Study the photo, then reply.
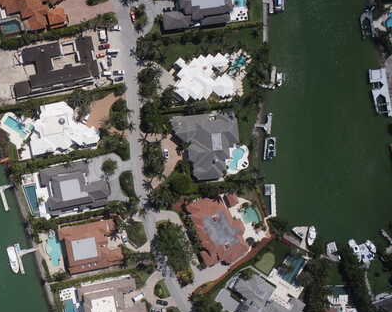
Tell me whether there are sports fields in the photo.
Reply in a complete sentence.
No, there is no sports field in the image.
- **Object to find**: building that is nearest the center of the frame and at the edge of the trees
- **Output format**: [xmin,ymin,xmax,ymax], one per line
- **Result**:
[170,113,240,181]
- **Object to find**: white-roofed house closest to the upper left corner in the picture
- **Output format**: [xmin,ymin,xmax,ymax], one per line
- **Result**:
[26,101,98,158]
